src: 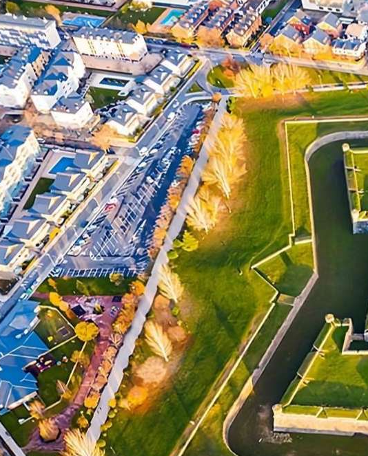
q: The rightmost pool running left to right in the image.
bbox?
[87,71,140,94]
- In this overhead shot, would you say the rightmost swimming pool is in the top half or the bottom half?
top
